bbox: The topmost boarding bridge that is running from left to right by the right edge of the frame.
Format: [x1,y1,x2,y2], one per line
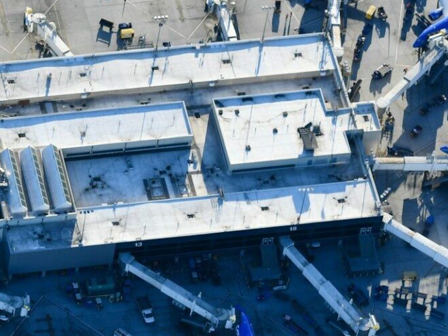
[365,154,448,193]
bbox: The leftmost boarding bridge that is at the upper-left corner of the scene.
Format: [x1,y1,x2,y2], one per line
[18,6,82,57]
